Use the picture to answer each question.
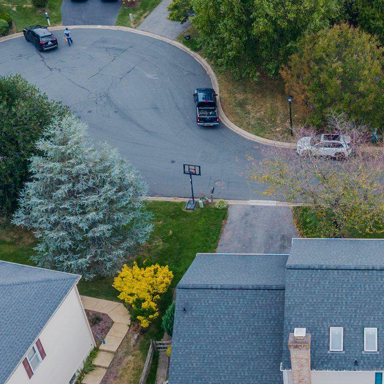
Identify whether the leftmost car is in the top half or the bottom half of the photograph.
top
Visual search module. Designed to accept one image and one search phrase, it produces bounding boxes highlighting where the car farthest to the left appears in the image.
[22,24,61,53]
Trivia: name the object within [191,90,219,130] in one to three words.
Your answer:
truck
